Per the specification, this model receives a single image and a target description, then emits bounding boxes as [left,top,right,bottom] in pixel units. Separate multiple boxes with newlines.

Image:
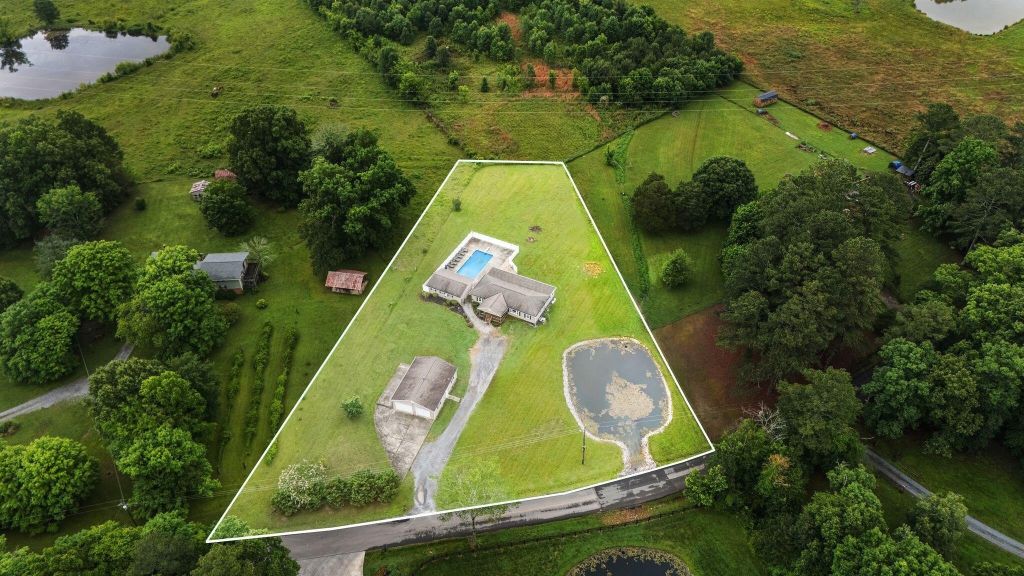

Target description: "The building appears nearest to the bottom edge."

[390,356,458,419]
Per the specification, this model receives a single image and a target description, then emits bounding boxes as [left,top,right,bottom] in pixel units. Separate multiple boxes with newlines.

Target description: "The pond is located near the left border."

[0,27,169,98]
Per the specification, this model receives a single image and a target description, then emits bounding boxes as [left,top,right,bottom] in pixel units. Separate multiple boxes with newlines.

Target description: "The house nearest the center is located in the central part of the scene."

[425,267,557,327]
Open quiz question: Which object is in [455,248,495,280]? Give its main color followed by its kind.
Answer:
blue swimming pool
